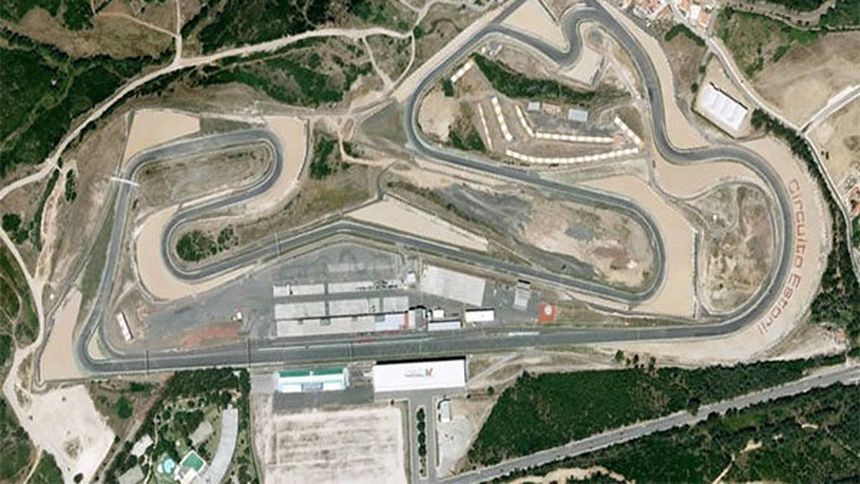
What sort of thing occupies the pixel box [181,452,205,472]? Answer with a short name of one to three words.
swimming pool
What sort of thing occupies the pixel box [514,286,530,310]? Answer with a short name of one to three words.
building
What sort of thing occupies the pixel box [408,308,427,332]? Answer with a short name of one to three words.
building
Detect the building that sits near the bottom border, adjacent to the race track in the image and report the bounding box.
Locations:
[197,404,239,484]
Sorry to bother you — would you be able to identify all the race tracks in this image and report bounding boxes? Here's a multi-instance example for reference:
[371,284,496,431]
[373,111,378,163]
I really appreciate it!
[39,0,831,381]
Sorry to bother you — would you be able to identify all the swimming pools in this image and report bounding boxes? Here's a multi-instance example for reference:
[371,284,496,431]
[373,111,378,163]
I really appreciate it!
[181,452,205,472]
[165,460,174,473]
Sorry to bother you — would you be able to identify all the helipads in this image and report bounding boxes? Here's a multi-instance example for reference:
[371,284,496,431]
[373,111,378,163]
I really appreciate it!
[538,302,556,321]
